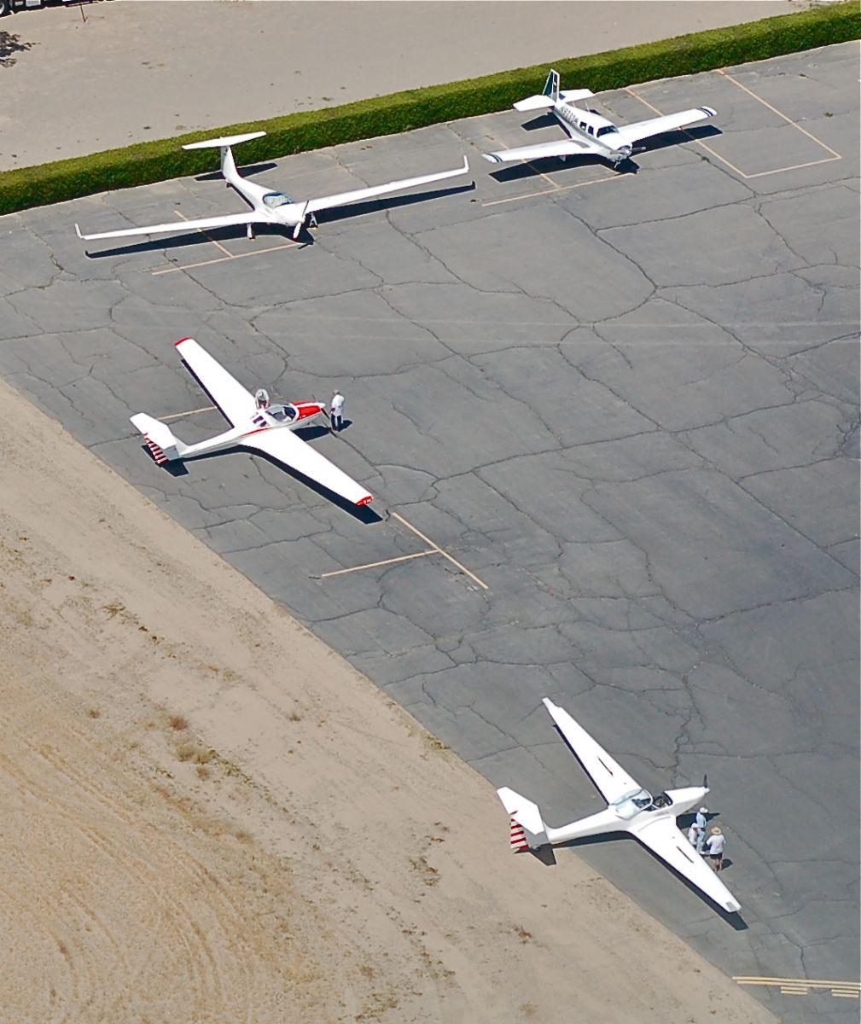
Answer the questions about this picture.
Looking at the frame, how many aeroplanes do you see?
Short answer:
four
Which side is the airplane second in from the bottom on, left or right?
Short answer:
left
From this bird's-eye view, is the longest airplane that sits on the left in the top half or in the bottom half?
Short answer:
top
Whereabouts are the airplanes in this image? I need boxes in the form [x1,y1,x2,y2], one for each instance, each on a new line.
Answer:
[128,339,372,504]
[478,68,717,174]
[73,133,471,244]
[496,700,744,910]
